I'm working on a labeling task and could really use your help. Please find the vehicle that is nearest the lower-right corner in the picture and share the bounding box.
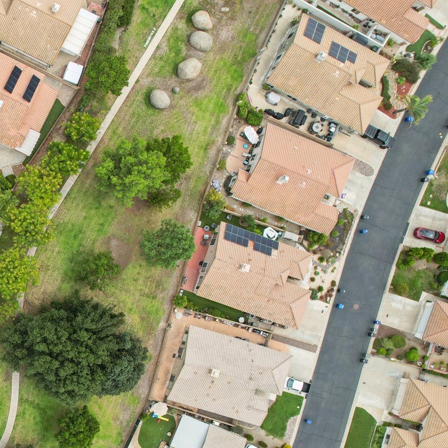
[285,377,314,395]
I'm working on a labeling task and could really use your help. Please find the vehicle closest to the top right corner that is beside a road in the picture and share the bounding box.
[364,124,397,148]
